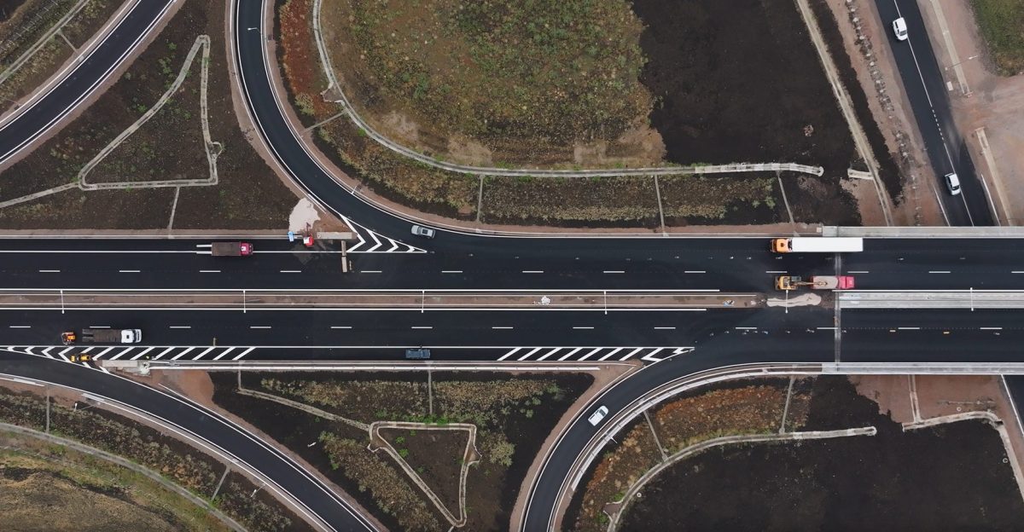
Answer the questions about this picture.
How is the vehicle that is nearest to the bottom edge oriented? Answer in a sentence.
What the image shows is the vehicle that is nearest to the bottom edge lying on a diagonal.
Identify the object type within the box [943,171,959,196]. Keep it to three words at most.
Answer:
car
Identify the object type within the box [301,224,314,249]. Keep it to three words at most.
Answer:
vehicle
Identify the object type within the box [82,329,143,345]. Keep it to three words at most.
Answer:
vehicle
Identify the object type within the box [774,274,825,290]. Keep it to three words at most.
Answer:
work vehicle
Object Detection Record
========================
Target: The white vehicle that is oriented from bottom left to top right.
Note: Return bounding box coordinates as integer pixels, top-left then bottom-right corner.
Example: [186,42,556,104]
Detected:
[586,404,610,428]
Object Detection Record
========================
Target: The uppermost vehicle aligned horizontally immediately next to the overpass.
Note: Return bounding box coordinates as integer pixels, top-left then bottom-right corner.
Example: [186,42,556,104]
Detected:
[770,237,863,253]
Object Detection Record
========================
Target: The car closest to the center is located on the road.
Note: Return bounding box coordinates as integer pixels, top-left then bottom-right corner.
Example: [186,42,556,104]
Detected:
[411,225,436,238]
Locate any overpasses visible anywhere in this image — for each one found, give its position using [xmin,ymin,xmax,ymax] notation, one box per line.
[822,226,1024,375]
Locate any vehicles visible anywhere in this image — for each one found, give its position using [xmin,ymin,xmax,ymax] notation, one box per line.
[943,171,959,196]
[82,329,143,345]
[810,275,856,291]
[301,224,314,249]
[62,332,75,344]
[196,241,254,256]
[70,353,89,362]
[411,225,436,238]
[406,347,430,359]
[891,15,908,41]
[586,404,610,428]
[770,237,863,253]
[774,274,825,290]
